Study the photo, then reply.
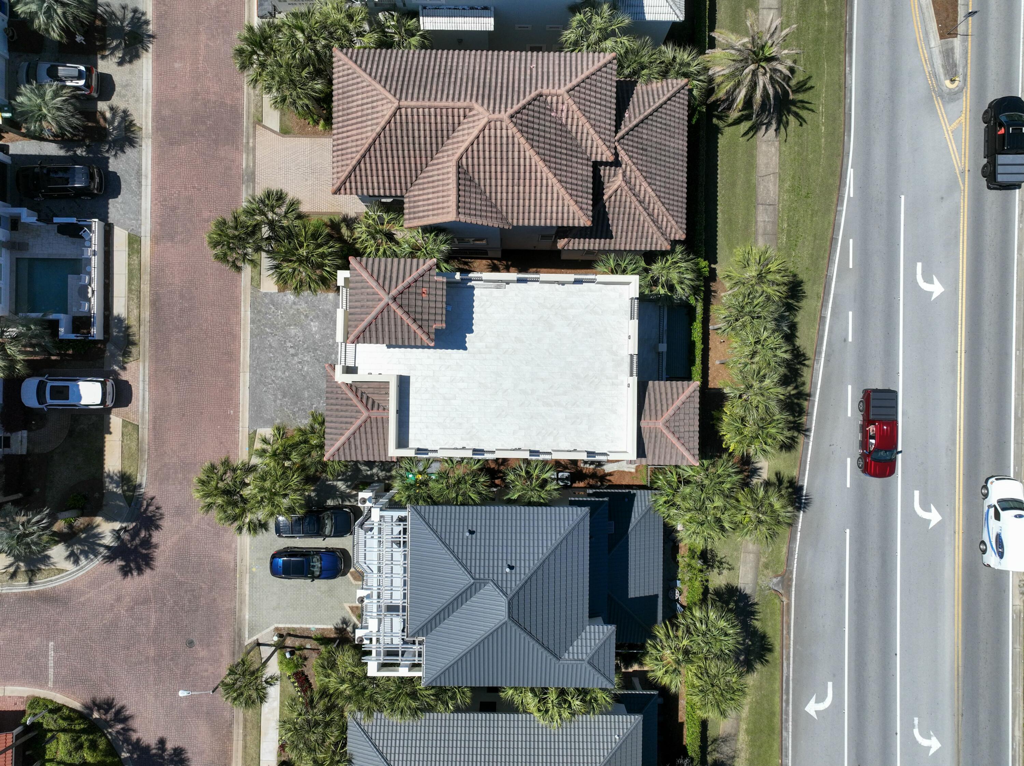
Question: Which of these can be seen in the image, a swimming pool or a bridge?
swimming pool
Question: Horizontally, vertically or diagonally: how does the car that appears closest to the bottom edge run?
horizontally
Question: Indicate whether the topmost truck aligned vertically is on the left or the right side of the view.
right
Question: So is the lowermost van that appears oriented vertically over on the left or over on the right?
right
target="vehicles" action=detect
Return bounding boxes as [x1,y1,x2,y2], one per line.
[18,158,105,201]
[268,546,345,585]
[855,385,902,478]
[272,503,355,543]
[976,476,1024,576]
[979,96,1024,193]
[19,55,102,102]
[23,372,117,413]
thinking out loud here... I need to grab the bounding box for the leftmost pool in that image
[15,257,81,313]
